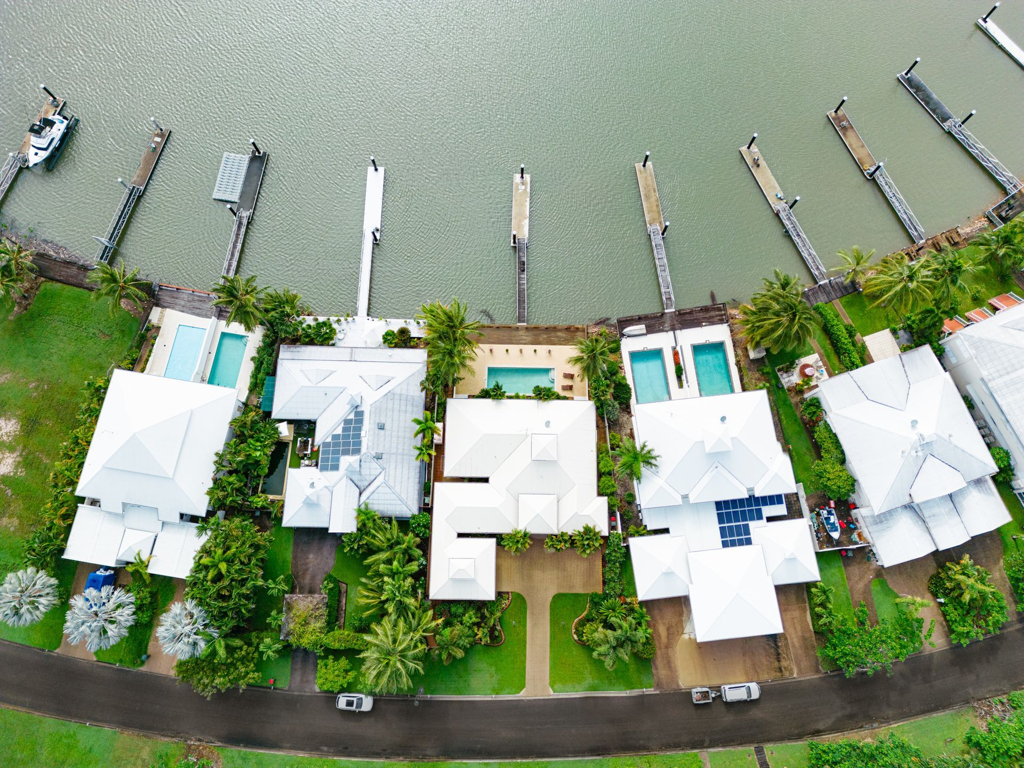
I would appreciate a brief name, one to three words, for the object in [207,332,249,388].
swimming pool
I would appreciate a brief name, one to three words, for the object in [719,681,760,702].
car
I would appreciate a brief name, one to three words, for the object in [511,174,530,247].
pier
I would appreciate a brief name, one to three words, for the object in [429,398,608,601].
house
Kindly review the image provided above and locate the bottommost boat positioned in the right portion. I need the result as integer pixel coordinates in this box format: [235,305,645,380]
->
[819,508,840,538]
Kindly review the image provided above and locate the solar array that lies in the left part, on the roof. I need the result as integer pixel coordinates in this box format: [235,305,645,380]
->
[319,410,363,471]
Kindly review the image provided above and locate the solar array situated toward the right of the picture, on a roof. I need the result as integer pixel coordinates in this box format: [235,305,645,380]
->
[716,494,784,548]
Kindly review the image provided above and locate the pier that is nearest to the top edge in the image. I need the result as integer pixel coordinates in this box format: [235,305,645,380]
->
[976,16,1024,73]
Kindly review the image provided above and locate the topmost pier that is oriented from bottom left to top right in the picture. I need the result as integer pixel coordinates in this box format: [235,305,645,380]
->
[18,96,67,155]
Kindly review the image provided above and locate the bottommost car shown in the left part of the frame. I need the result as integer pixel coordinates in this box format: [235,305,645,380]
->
[336,692,374,713]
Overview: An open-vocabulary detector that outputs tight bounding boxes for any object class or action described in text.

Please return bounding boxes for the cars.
[336,692,374,713]
[719,681,760,702]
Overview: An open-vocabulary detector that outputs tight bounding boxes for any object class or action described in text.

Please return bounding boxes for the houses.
[812,344,1012,567]
[628,390,820,643]
[62,369,242,579]
[429,398,608,601]
[272,345,428,533]
[940,296,1024,500]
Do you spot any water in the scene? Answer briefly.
Yes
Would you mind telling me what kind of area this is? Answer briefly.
residential area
